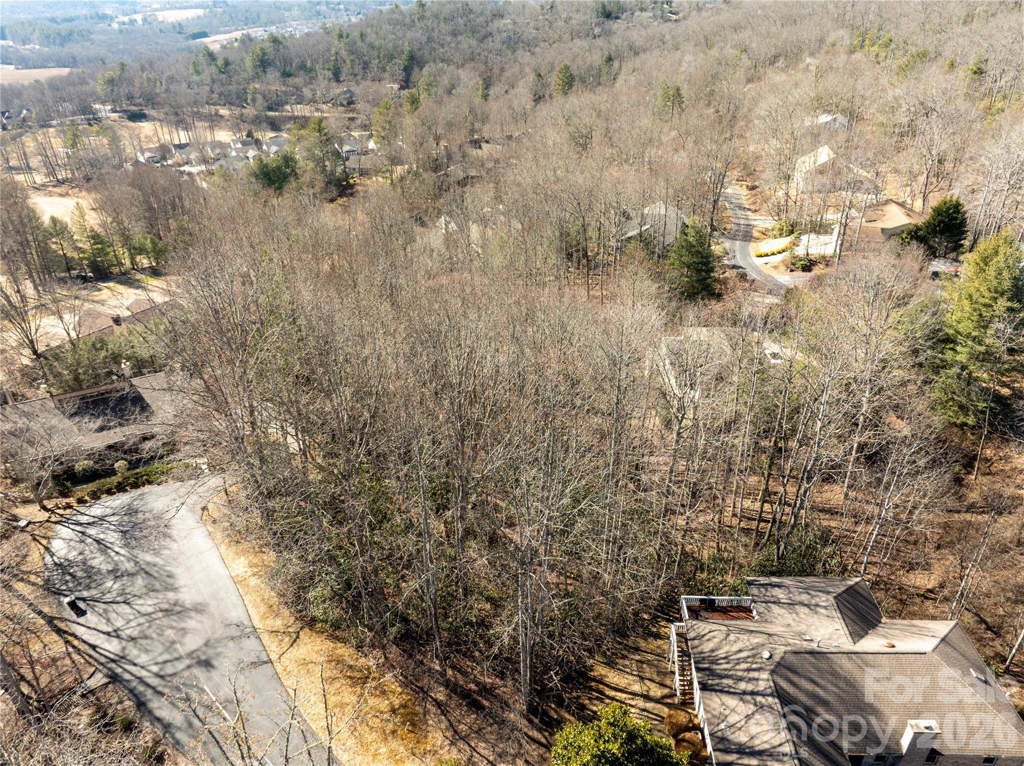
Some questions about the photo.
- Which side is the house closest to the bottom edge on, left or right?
right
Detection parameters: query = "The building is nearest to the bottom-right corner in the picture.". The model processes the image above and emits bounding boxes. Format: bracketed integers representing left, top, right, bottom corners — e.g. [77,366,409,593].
[655,575,1024,766]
